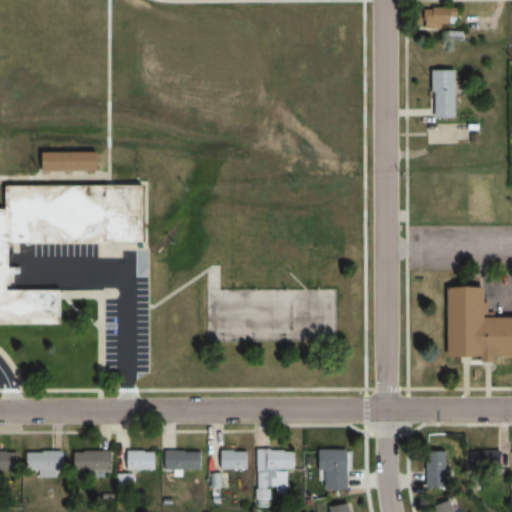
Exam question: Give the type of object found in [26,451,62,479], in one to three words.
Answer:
house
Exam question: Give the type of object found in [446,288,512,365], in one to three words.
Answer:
building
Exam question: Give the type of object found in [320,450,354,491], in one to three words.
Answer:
house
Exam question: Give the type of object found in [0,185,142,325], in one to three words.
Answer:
building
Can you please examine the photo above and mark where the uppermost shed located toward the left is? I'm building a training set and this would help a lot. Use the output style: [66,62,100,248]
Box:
[42,151,97,172]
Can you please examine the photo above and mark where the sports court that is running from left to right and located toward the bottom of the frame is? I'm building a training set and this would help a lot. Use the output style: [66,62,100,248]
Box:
[207,288,336,341]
